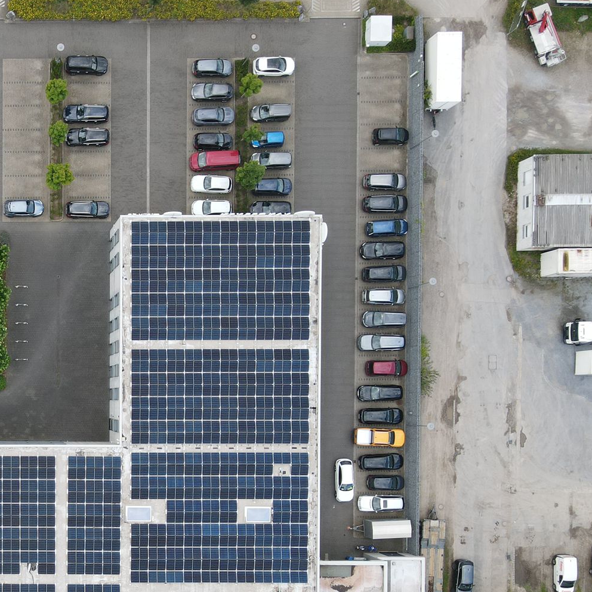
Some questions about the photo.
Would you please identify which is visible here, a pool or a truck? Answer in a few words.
truck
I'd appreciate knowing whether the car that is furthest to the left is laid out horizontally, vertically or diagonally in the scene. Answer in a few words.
horizontally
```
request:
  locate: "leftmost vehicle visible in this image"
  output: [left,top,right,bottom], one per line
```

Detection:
[4,198,45,218]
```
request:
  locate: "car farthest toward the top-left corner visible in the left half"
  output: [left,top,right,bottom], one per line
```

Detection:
[64,53,109,78]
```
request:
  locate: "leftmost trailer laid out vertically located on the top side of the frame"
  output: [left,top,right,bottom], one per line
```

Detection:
[423,31,463,130]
